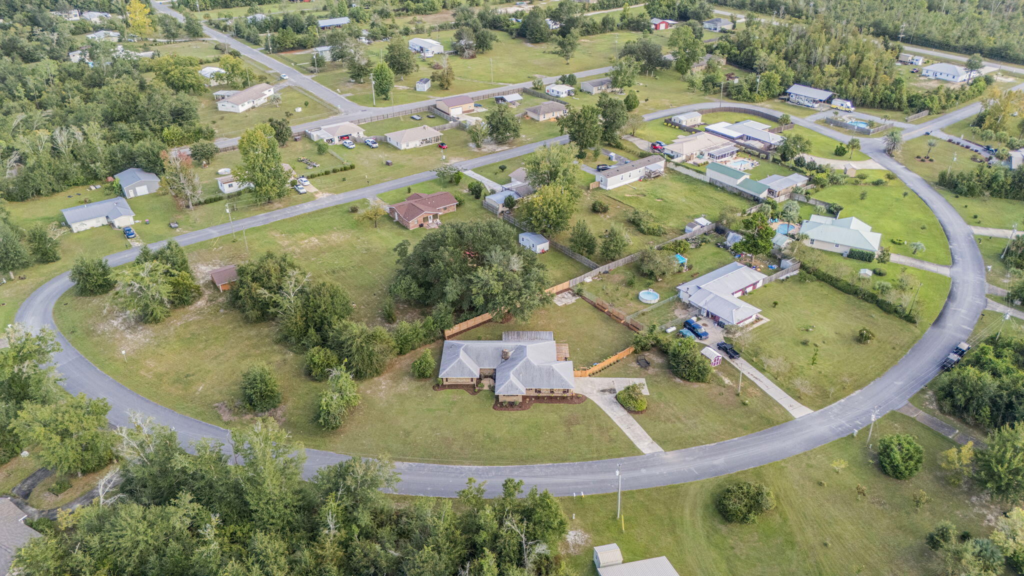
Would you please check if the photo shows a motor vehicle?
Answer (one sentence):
Yes, the frame does contain a motor vehicle.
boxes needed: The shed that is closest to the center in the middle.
[523,229,549,253]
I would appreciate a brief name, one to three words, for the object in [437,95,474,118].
barn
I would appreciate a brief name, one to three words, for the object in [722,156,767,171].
swimming pool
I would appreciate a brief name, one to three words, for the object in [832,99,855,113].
vehicle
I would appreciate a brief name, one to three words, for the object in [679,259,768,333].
house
